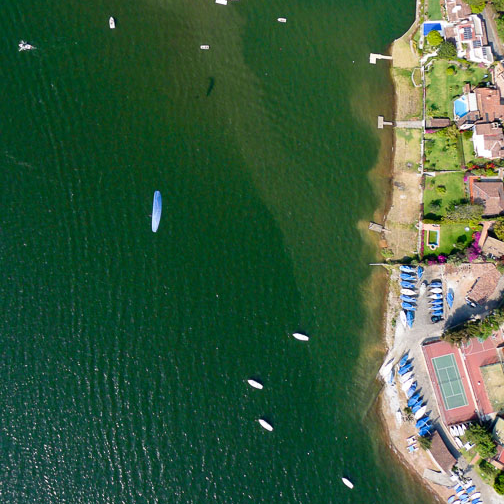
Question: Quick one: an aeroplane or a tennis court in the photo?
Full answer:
Visible in the photo is a tennis court.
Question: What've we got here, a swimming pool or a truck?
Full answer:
I can see a swimming pool in this picture.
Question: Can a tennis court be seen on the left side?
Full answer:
No, there's no tennis court to be seen on the left side.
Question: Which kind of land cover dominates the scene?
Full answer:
The bulk of the photo consists of water.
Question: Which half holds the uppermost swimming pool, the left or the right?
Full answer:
The uppermost swimming pool sits on the right side.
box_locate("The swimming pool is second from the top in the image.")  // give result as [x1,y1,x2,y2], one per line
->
[453,94,470,120]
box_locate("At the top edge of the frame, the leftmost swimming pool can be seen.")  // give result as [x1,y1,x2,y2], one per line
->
[420,21,445,41]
